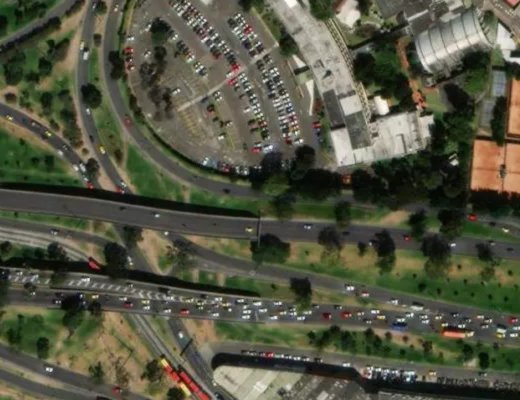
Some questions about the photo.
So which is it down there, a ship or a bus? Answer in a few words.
bus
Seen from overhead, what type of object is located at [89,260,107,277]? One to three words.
vehicle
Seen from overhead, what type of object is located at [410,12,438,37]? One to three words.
building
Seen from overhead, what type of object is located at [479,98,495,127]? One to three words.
tennis court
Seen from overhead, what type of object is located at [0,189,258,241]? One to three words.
overpass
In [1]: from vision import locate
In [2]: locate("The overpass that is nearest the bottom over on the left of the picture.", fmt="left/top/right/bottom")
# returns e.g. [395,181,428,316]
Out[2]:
[0,267,262,323]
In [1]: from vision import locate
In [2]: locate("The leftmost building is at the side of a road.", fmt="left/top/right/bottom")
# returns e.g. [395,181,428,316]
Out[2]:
[213,365,307,400]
